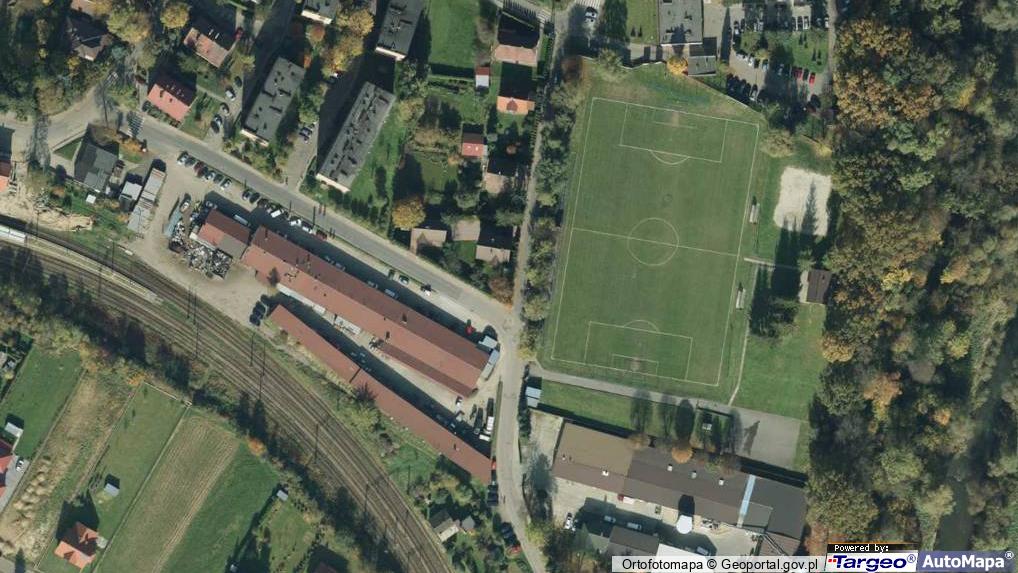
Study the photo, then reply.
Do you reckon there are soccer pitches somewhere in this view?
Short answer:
Yes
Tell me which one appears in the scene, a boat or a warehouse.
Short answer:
warehouse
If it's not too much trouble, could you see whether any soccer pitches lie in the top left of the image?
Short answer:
No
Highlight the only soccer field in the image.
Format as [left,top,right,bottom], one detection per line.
[544,91,766,393]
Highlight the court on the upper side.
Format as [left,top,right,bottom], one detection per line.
[772,167,832,235]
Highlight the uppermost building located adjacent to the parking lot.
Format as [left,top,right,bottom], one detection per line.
[655,0,704,46]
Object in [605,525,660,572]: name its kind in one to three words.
building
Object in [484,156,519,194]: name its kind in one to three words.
house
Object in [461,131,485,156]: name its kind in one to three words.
house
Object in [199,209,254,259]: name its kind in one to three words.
building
